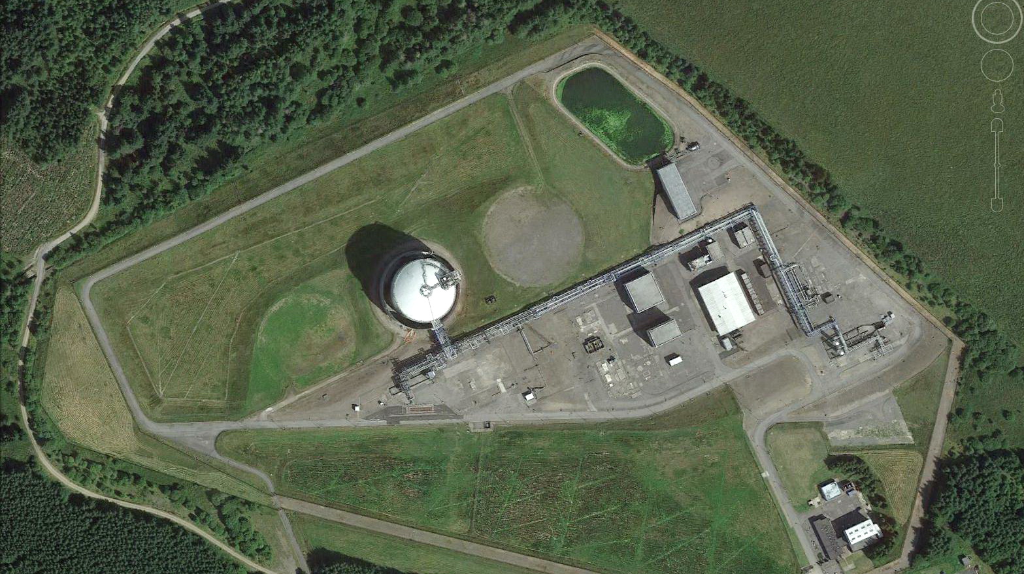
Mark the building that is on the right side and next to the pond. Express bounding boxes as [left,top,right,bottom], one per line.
[655,162,696,219]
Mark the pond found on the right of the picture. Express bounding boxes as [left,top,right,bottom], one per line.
[556,67,674,163]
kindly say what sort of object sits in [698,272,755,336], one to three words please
building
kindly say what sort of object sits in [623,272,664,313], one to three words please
house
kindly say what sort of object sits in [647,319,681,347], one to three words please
house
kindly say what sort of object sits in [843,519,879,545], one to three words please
building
